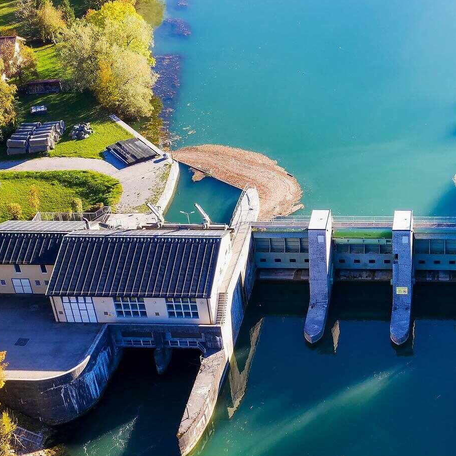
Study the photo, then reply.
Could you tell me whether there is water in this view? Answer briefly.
Yes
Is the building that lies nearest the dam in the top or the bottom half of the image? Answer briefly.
bottom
